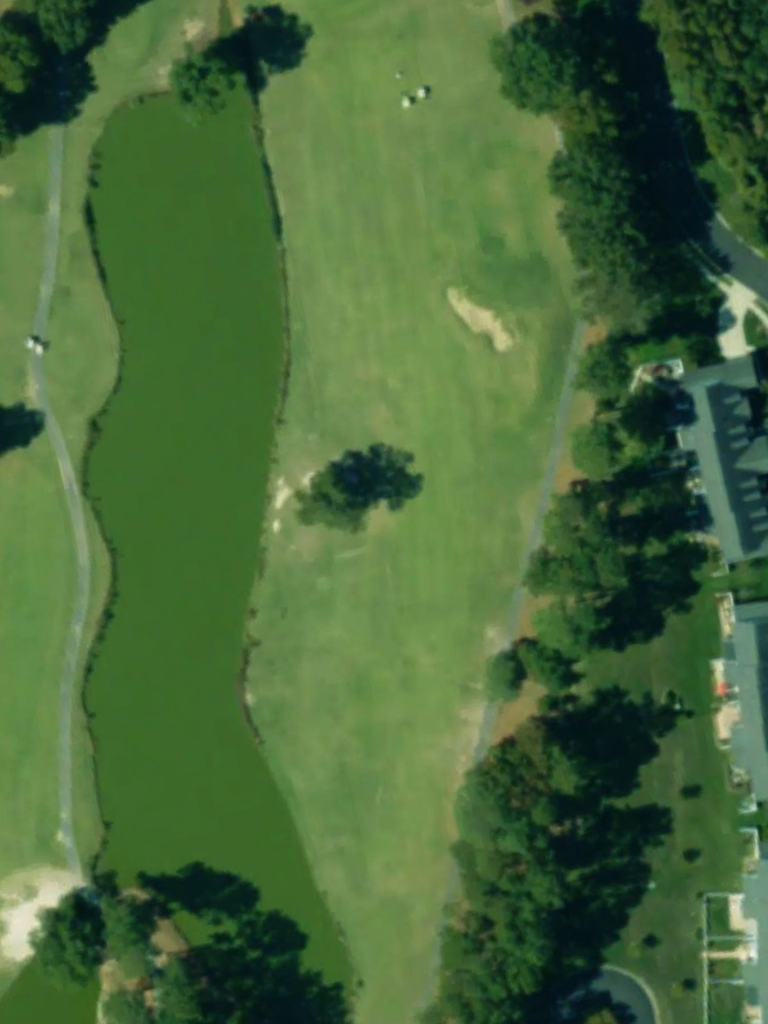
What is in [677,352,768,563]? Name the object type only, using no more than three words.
house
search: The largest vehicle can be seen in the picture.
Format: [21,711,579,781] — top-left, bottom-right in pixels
[719,306,731,330]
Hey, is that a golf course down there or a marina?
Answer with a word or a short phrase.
golf course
